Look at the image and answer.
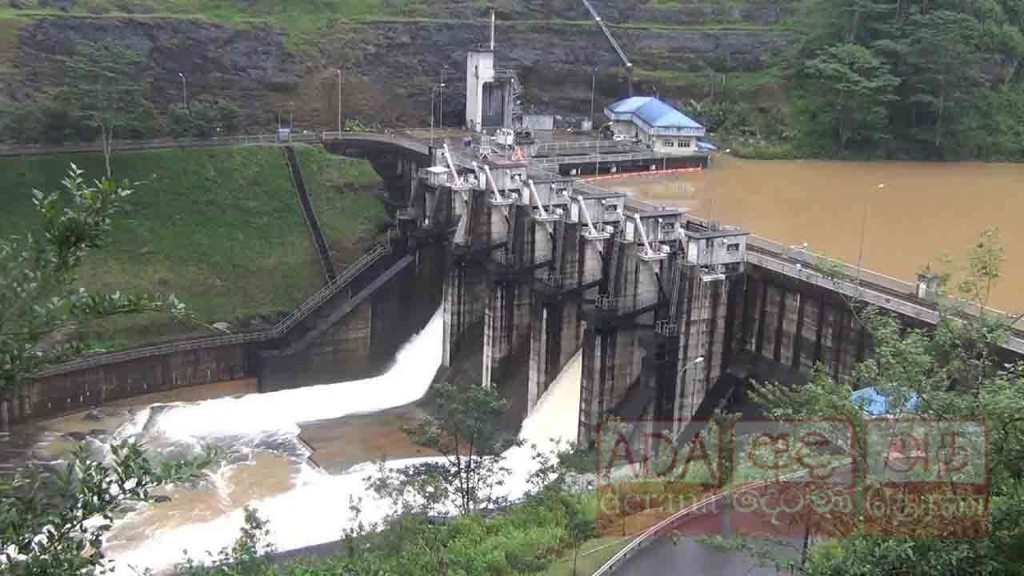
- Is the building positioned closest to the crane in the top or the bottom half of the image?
top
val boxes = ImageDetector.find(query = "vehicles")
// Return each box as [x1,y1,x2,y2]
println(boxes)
[513,130,545,148]
[610,133,635,142]
[483,133,520,147]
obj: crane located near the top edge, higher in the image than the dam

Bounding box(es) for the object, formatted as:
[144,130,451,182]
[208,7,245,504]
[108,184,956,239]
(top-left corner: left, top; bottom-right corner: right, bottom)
[582,0,633,97]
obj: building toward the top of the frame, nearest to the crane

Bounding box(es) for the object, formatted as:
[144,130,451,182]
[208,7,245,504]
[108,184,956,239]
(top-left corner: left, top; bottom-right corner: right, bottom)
[603,78,704,151]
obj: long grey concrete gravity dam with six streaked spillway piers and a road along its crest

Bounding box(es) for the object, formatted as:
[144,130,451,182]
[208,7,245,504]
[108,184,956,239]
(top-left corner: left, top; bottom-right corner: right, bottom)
[252,134,1024,485]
